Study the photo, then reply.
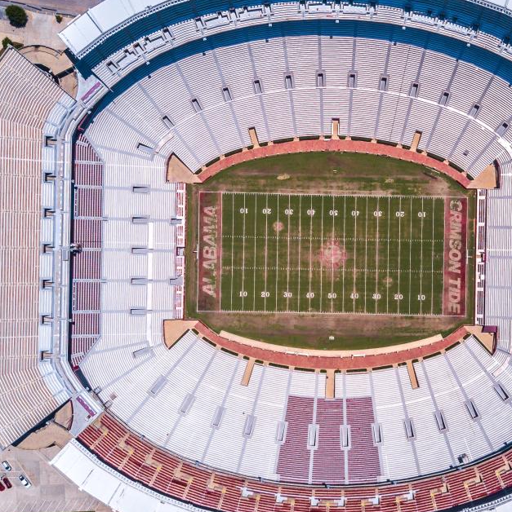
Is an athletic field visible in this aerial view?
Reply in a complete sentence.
Yes, you can see an athletic field in this photo.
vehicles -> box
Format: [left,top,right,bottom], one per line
[0,481,6,491]
[2,476,14,489]
[18,474,31,489]
[1,459,13,473]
